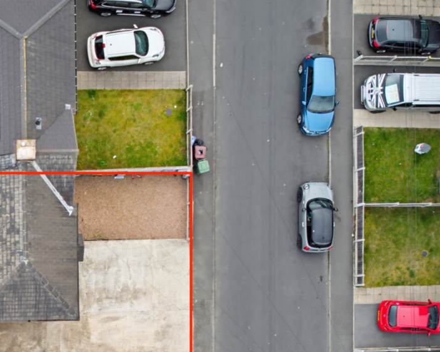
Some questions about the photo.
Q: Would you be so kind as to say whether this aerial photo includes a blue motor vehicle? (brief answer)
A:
Yes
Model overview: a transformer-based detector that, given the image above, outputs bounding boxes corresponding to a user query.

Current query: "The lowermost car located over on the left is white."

[86,25,166,70]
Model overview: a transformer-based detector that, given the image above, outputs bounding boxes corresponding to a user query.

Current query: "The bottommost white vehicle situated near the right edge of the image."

[362,68,440,113]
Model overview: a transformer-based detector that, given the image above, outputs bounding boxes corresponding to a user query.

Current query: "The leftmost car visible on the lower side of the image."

[295,181,340,251]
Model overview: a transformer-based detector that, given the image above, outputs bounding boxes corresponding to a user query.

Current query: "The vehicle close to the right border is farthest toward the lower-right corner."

[371,298,440,338]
